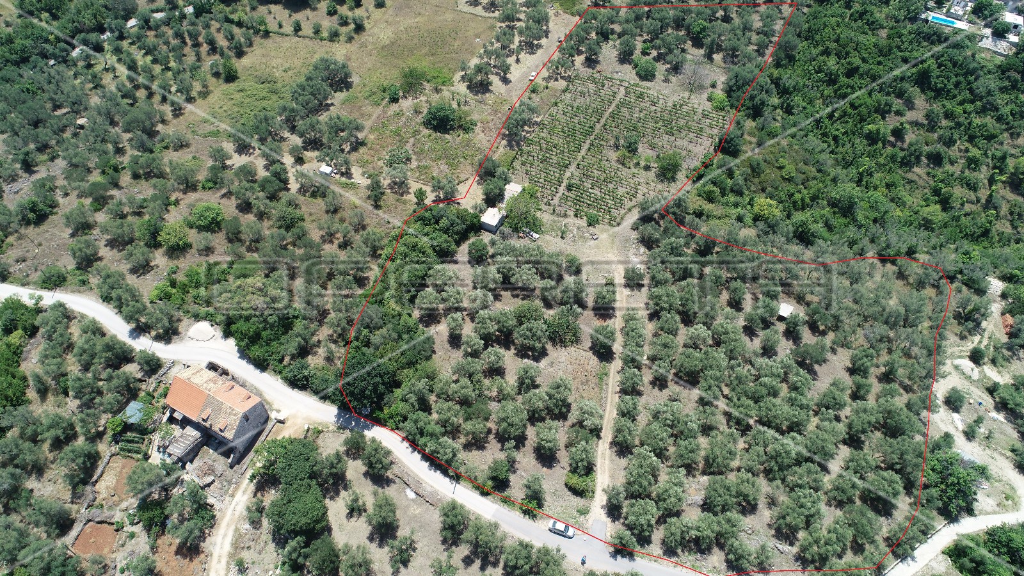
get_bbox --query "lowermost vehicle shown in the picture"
[547,520,575,538]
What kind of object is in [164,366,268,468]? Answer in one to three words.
house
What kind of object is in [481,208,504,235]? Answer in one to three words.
shed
